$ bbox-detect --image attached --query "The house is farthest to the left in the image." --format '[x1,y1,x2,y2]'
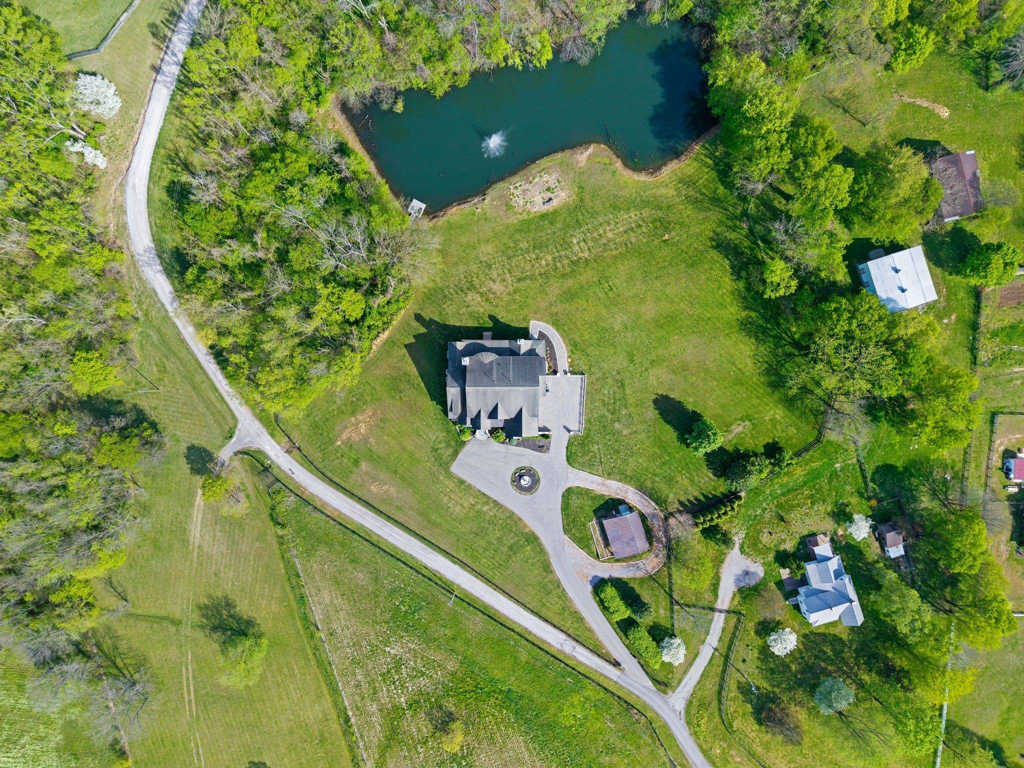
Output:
[445,339,547,439]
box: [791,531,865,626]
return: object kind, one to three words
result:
house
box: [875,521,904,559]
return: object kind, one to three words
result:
shed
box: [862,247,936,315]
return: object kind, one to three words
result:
barn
